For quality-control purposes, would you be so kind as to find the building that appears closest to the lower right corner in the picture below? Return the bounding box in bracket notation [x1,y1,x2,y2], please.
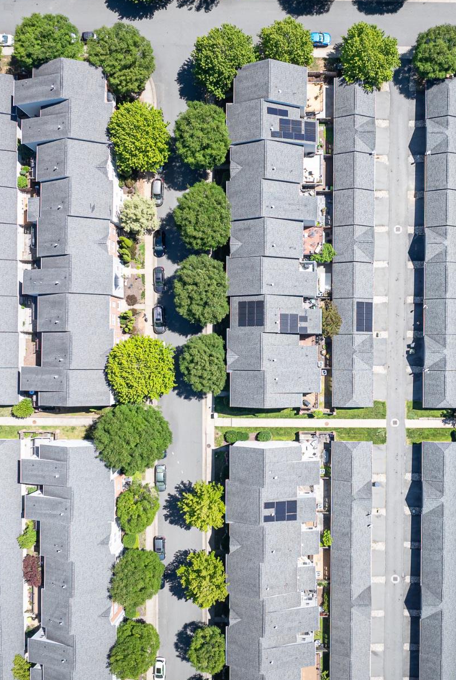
[419,643,456,680]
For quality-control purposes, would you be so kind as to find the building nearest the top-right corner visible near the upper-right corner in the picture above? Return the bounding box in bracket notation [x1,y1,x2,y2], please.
[424,78,456,119]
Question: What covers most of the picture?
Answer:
buildings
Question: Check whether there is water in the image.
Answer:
No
